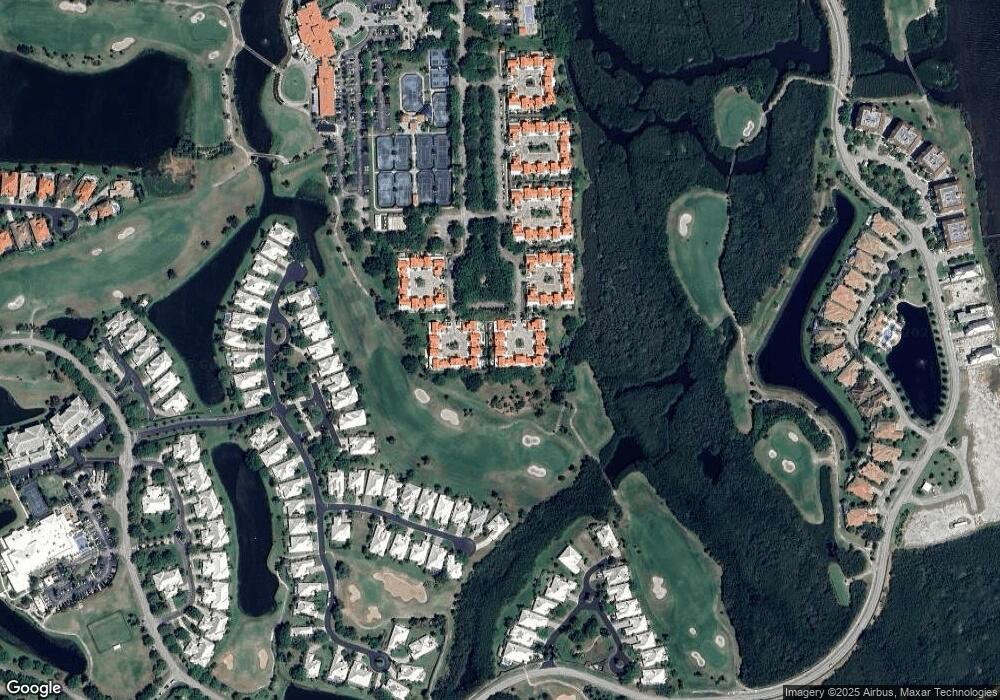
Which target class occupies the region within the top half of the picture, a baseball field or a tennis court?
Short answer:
tennis court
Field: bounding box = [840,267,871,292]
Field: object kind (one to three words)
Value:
house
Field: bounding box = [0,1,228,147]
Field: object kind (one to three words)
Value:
golf course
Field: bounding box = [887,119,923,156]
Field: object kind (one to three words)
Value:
building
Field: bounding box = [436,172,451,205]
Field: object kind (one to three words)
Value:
tennis court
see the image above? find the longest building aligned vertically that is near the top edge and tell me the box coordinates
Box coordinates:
[293,2,342,118]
